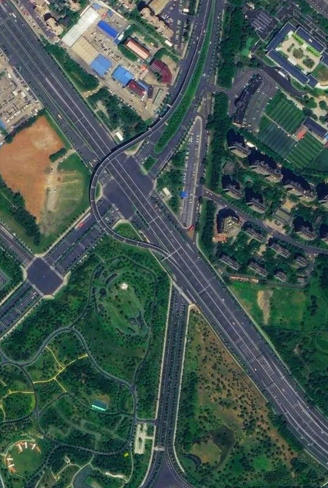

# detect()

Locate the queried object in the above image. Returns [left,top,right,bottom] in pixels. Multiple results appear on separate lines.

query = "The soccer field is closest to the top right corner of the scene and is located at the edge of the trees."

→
[265,97,305,135]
